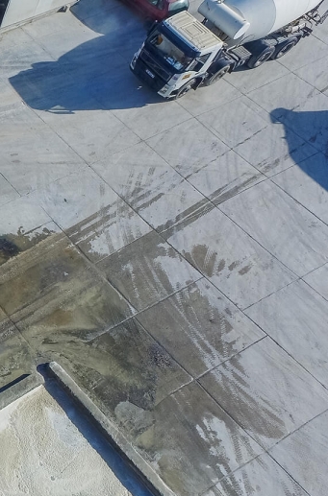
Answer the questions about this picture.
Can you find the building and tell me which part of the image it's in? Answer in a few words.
top left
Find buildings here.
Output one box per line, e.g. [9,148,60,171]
[0,0,61,29]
